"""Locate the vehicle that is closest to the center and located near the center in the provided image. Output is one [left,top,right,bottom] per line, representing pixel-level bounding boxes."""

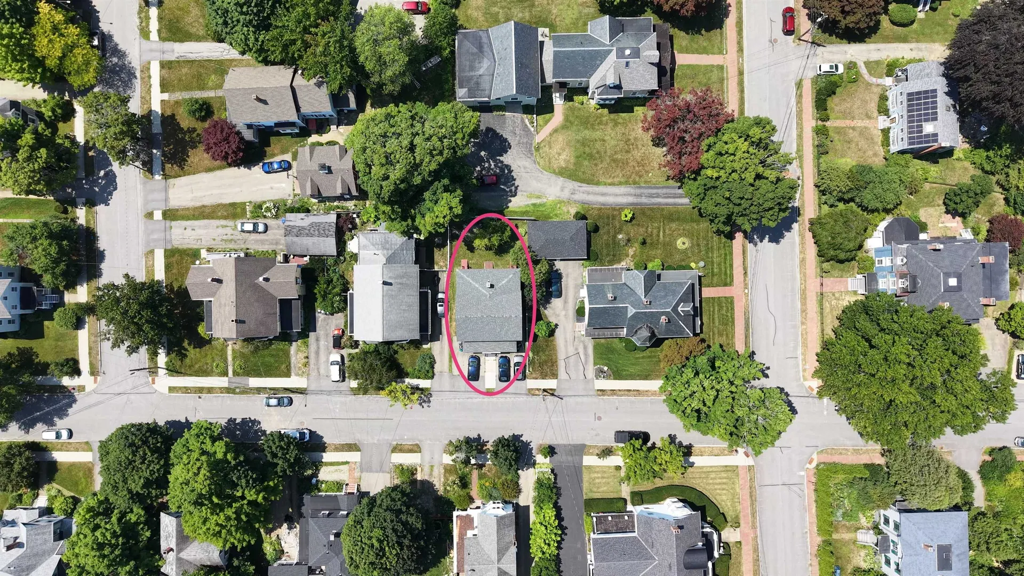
[549,270,562,298]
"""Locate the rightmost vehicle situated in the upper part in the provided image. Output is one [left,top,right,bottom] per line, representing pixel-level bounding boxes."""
[816,62,843,76]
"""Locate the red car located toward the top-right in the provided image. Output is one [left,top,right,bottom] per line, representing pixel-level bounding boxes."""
[781,8,796,37]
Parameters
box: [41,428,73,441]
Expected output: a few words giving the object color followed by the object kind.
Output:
white vehicle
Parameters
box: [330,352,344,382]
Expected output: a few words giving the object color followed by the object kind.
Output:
white car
